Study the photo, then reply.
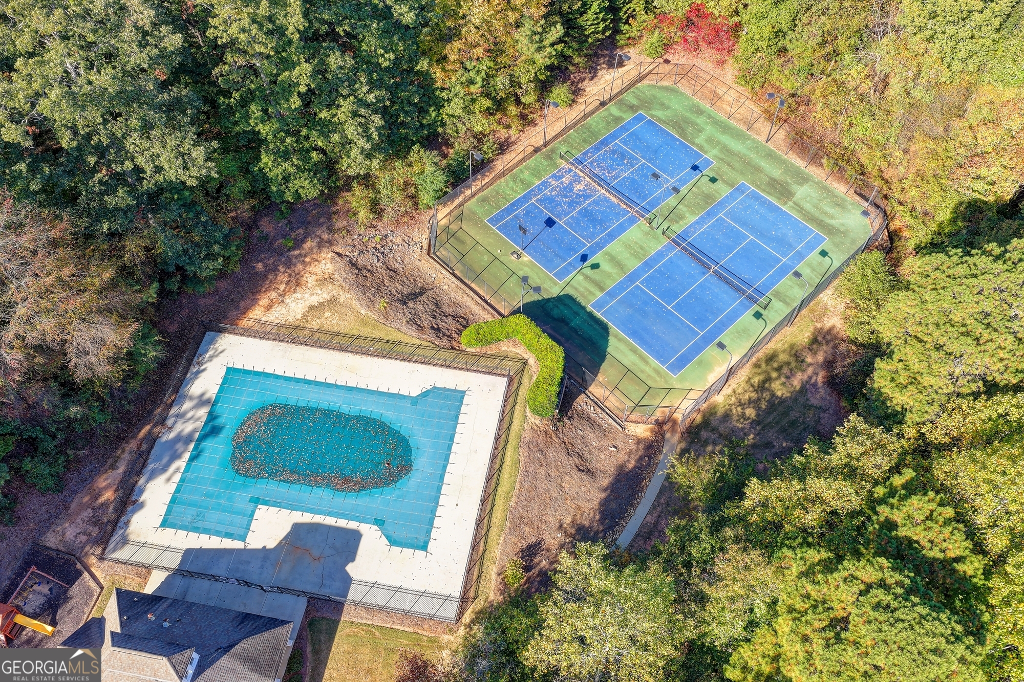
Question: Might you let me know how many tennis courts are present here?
2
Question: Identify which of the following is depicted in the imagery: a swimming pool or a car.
swimming pool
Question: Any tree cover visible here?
Yes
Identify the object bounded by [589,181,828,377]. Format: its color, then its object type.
blue tennis court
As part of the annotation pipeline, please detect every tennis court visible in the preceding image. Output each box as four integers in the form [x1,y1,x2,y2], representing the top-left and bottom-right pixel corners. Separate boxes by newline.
[486,112,715,282]
[589,181,828,377]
